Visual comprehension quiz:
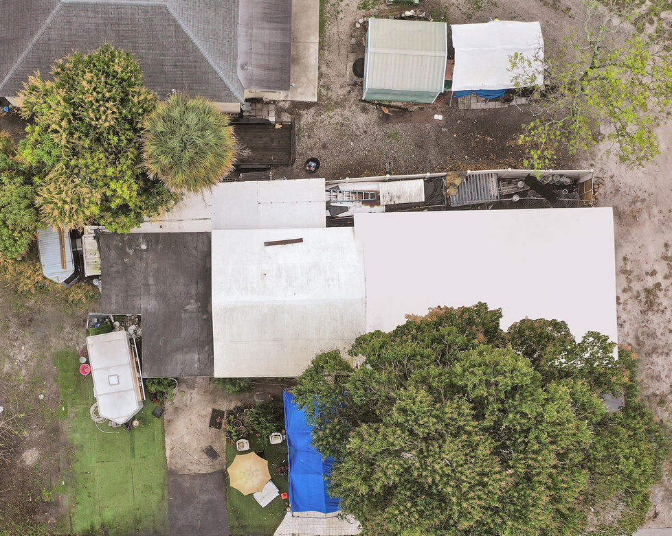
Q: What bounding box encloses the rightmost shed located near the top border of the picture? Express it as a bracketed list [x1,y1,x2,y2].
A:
[362,17,449,104]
